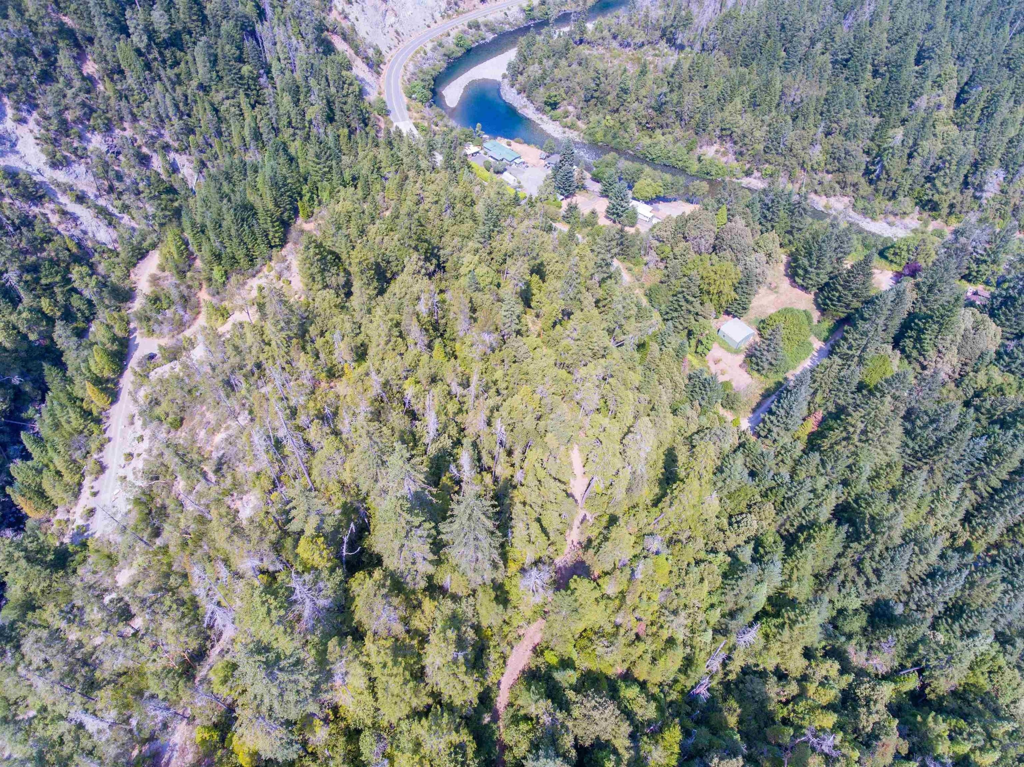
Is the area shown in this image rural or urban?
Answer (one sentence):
The area is rural.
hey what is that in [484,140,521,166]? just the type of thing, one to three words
house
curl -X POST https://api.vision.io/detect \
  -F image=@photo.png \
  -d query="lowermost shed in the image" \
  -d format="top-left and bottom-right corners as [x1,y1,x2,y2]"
[720,318,755,348]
